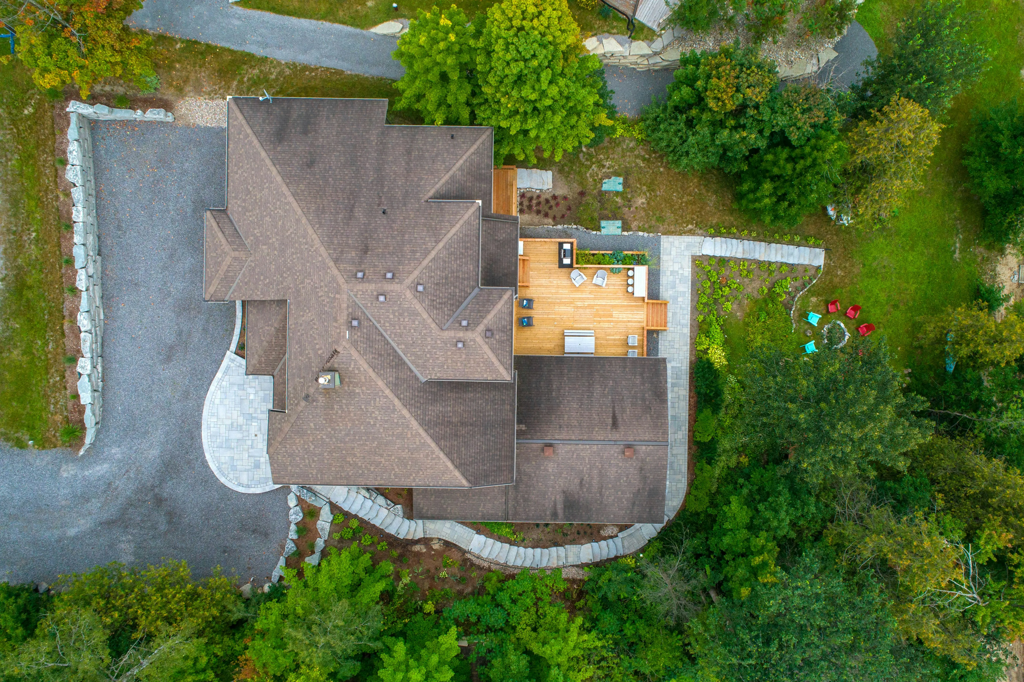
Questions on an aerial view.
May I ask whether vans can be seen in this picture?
No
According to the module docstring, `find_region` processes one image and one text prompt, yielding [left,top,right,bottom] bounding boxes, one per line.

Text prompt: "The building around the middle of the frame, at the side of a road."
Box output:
[201,94,669,526]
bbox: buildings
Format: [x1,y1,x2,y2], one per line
[201,94,669,526]
[603,0,639,18]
